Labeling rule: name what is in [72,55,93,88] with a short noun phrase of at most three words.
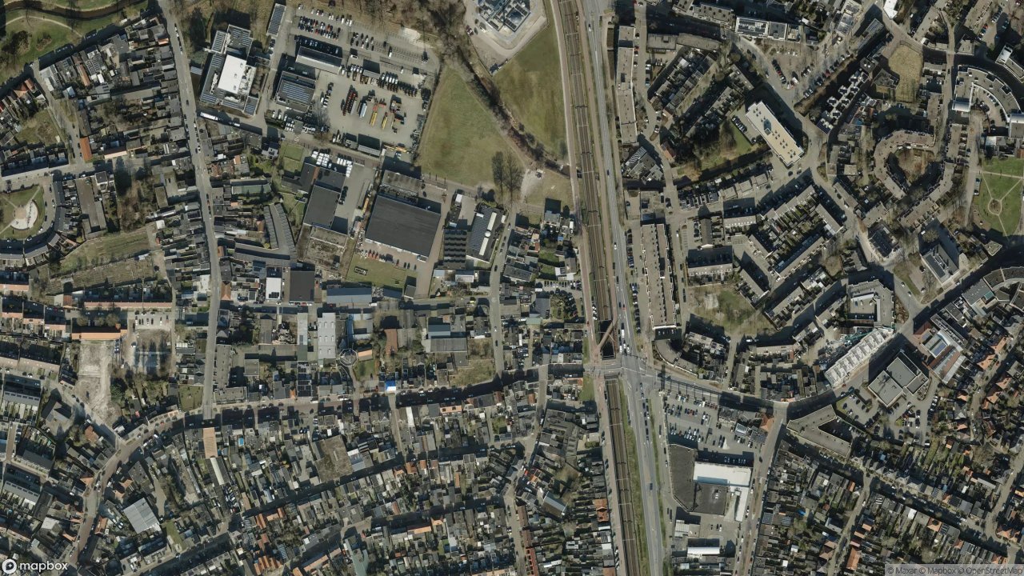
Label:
house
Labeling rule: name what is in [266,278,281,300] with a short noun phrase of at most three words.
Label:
building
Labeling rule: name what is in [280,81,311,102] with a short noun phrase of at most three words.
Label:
solar panel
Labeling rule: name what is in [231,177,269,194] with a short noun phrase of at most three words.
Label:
building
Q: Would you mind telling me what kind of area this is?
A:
residential area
